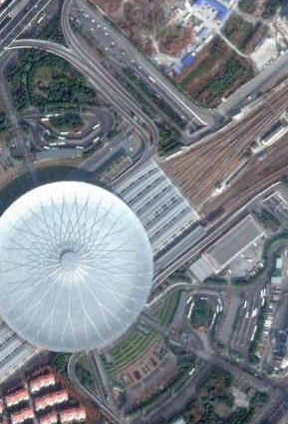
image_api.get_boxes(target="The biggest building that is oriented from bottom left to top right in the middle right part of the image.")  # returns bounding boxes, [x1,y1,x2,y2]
[203,214,266,269]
